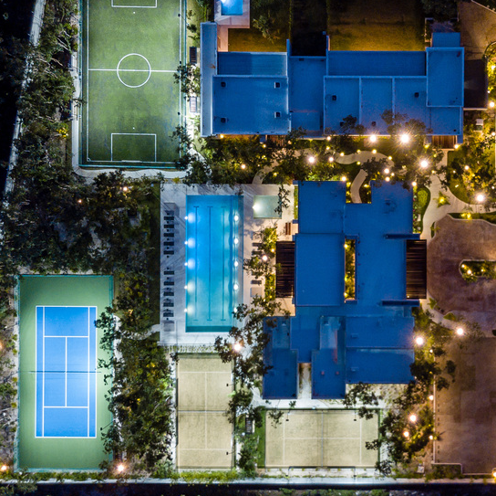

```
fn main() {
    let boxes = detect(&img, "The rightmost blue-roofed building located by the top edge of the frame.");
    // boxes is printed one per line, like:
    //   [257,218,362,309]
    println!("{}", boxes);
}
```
[200,18,464,151]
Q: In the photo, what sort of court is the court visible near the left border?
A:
tennis court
